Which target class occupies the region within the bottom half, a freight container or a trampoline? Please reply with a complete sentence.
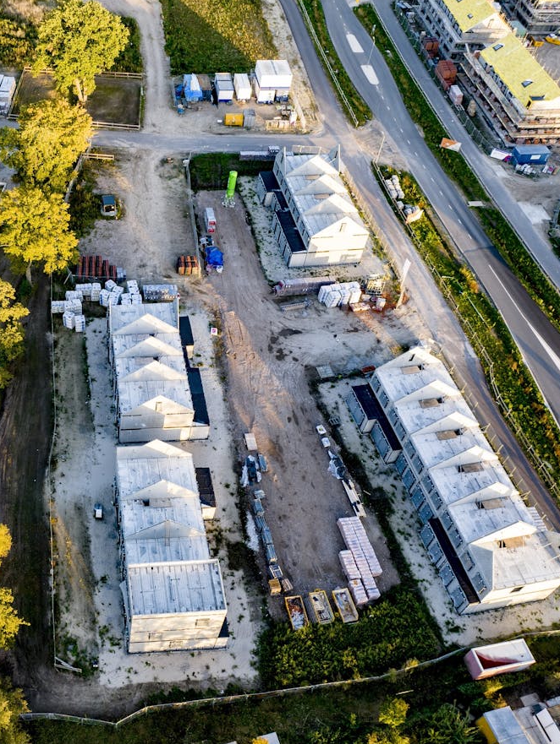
The feature located within the bottom half is a freight container.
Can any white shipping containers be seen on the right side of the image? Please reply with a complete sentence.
Yes, the scene does show a white shipping container on the right side of the image.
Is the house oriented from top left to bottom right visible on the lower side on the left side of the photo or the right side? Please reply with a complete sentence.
It is on the right.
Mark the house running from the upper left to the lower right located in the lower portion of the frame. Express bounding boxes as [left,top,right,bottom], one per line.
[342,346,560,614]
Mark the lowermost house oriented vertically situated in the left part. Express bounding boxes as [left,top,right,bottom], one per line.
[109,435,231,652]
